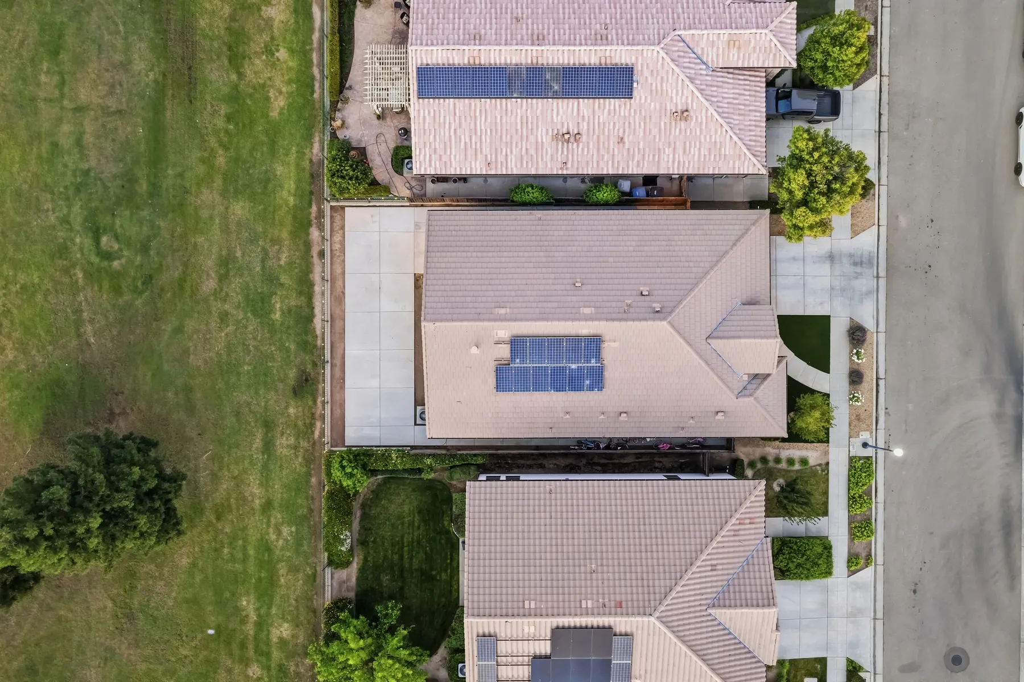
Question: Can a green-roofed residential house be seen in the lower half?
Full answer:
No, looking in the lower half, there is no green-roofed residential house.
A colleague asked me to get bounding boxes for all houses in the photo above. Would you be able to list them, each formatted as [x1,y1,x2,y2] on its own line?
[421,208,788,439]
[407,0,799,178]
[462,474,779,682]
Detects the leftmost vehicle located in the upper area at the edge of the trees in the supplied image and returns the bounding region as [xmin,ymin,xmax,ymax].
[767,84,841,125]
